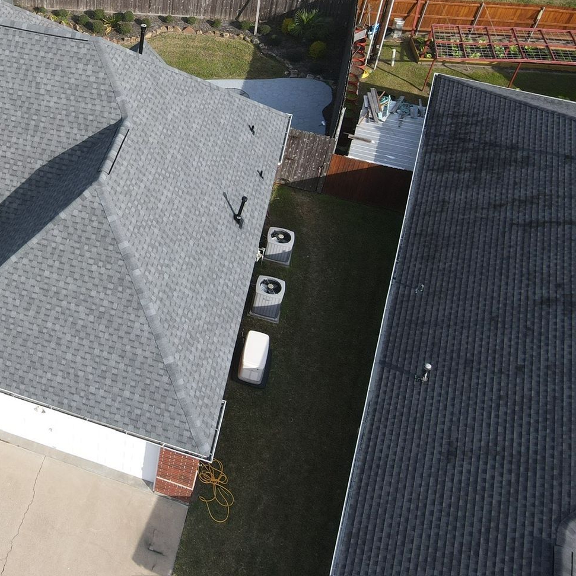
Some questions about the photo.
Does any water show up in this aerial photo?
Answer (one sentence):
No, the scene doesn't show any water.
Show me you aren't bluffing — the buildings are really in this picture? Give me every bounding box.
[325,76,576,576]
[0,0,294,506]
